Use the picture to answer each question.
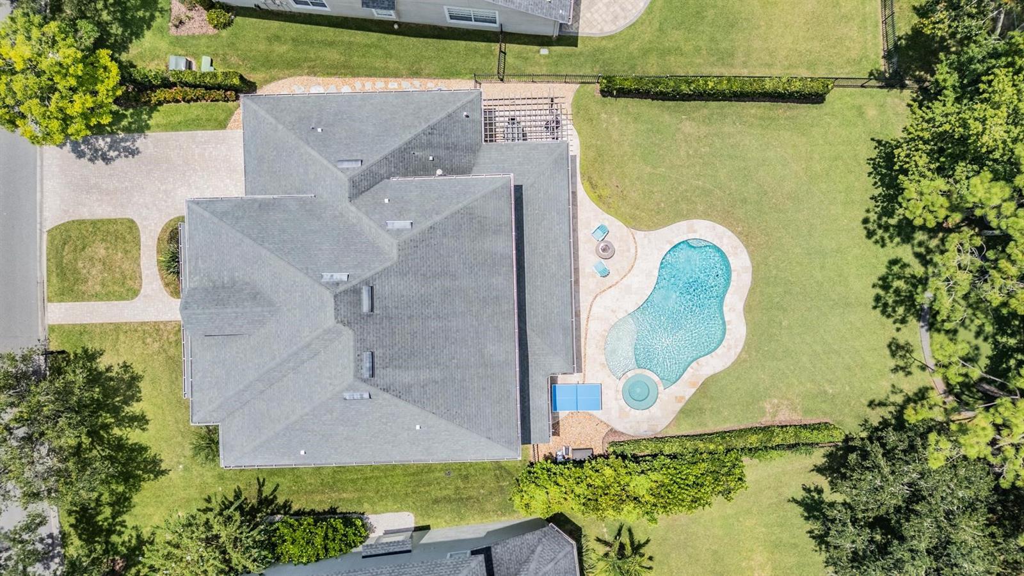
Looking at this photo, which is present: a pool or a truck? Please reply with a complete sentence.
Looking from above, you can make out a pool.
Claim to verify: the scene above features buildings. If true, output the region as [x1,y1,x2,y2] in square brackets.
[214,0,573,37]
[221,519,581,576]
[178,87,578,470]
